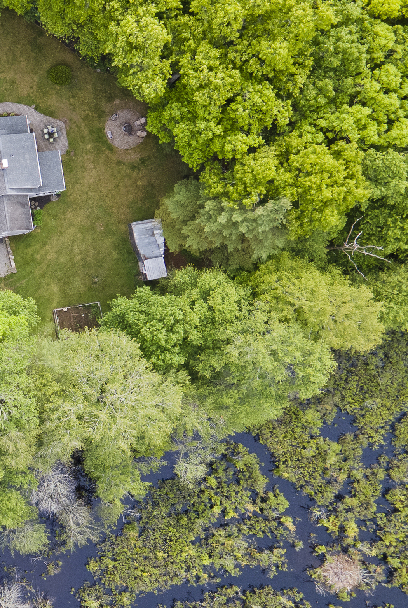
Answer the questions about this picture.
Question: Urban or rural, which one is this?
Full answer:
The land in this view is best described as rural.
